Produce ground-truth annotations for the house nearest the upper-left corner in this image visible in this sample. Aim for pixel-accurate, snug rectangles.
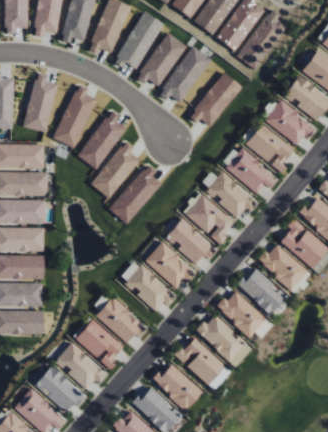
[4,0,28,34]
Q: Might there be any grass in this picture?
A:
Yes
